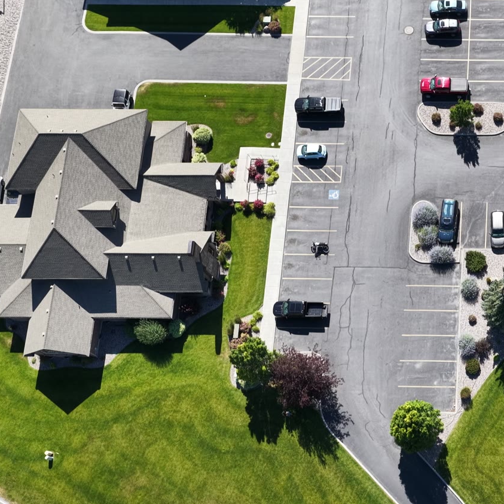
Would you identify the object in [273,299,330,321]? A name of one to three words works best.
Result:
truck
